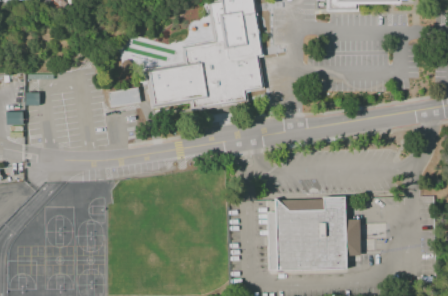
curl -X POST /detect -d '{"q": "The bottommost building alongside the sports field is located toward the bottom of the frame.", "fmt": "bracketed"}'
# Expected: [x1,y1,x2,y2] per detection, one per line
[270,196,348,272]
